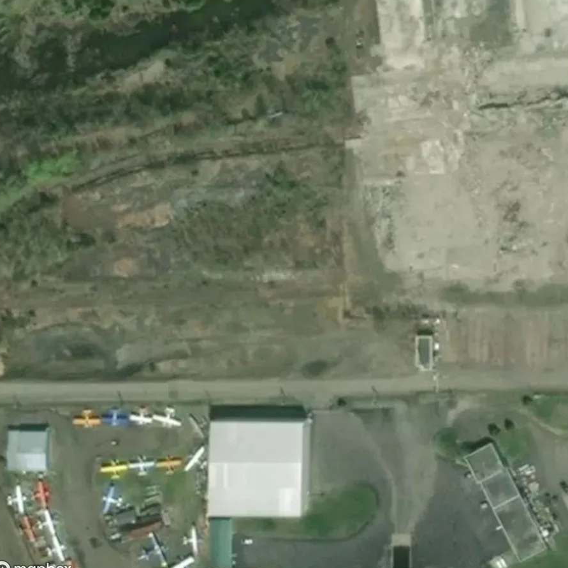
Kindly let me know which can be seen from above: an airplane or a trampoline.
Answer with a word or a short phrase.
airplane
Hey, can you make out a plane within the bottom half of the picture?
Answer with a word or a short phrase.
Yes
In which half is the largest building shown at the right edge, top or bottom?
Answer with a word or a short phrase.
bottom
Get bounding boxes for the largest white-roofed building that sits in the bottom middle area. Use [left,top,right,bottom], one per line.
[208,421,309,517]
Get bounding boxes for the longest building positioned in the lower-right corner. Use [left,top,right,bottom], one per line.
[465,444,550,561]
